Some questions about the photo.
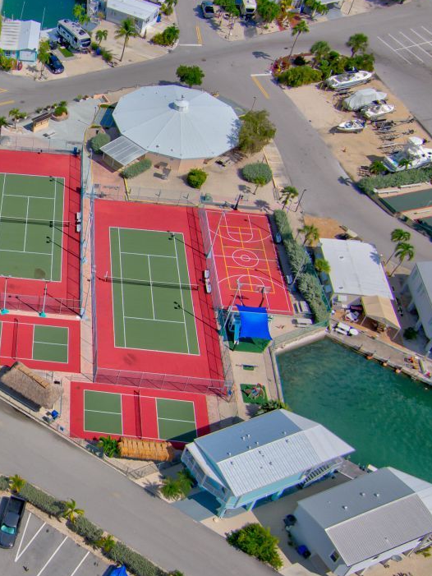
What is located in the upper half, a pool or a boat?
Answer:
boat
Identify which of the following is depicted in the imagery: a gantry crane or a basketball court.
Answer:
basketball court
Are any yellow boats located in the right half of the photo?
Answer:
No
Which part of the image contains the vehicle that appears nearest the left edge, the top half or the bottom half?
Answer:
bottom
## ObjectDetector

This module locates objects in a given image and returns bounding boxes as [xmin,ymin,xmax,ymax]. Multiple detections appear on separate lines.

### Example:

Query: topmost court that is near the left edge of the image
[0,149,81,314]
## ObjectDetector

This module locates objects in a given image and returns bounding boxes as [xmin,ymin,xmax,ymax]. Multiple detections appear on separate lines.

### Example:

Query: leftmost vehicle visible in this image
[0,493,27,548]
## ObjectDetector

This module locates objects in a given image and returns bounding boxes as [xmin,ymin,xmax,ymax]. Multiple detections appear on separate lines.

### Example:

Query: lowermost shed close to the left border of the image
[0,359,66,414]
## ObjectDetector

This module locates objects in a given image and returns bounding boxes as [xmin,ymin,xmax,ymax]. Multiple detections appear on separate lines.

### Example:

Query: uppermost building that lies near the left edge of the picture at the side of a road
[0,18,40,68]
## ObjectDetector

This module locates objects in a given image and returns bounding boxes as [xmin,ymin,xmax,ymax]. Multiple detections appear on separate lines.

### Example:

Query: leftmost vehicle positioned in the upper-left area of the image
[47,53,63,72]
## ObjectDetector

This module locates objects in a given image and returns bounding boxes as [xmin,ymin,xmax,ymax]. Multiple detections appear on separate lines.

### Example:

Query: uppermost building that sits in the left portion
[107,0,160,34]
